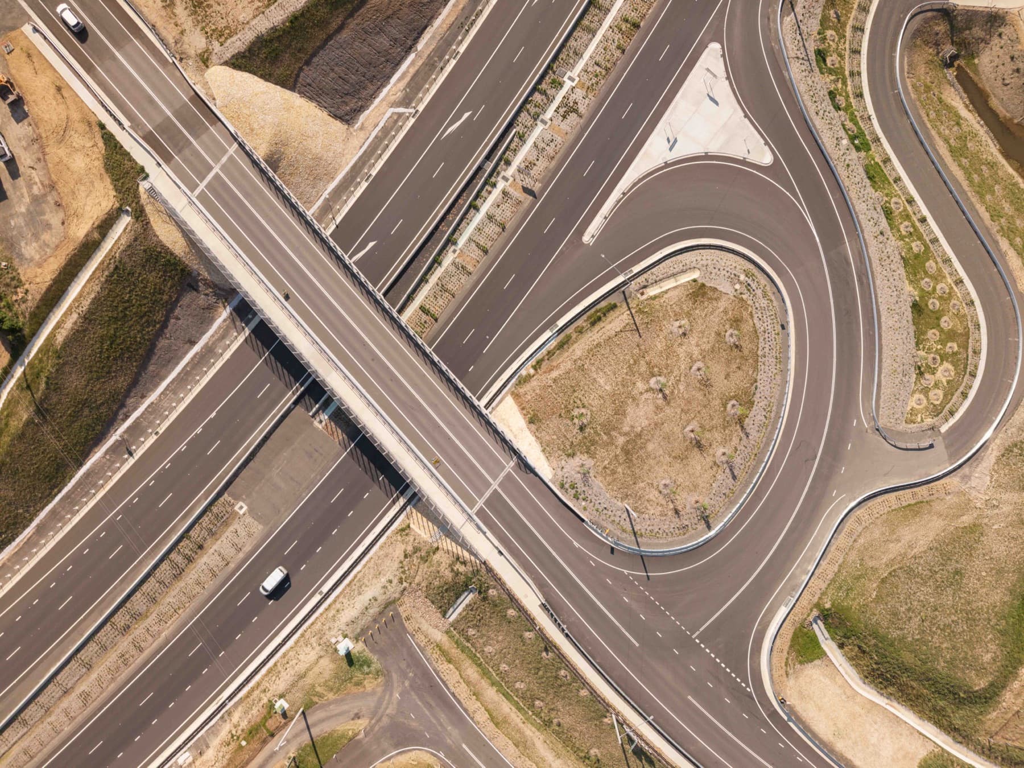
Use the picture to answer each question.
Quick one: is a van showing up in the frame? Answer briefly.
Yes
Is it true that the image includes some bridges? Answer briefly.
Yes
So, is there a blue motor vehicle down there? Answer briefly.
No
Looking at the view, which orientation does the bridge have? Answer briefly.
at an angle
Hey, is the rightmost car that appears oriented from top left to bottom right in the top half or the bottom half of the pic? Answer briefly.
top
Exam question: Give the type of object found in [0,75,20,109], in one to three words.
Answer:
vehicle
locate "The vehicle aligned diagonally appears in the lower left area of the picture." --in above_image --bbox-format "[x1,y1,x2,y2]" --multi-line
[259,565,289,595]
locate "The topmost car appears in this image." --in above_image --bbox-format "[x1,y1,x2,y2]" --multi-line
[56,3,85,33]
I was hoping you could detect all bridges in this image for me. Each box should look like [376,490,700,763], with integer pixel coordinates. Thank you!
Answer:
[120,58,586,604]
